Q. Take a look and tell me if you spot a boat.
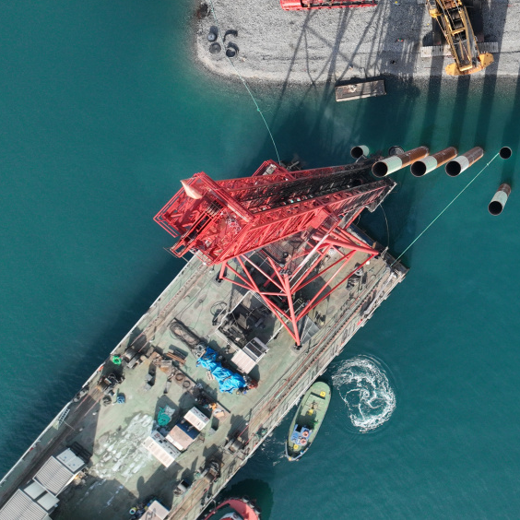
Yes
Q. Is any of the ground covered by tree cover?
No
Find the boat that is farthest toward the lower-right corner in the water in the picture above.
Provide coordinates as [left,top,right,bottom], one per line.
[284,379,334,461]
